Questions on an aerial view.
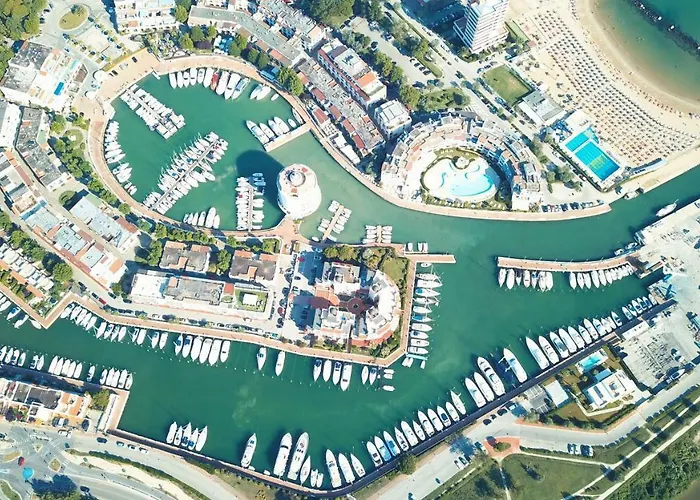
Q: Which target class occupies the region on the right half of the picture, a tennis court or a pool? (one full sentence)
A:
You can see a pool on the right half of the picture.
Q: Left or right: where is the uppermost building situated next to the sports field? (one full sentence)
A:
The uppermost building situated next to the sports field sits on the right side.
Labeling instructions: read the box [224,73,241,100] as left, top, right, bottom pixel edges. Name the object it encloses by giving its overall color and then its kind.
white boat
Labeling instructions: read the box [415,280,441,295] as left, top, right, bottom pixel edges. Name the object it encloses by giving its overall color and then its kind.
white boat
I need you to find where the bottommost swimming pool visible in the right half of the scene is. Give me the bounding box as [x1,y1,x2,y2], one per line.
[578,350,601,369]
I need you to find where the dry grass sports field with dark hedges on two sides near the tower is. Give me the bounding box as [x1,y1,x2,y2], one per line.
[483,65,530,105]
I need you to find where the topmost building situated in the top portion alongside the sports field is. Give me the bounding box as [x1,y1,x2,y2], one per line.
[453,0,509,55]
